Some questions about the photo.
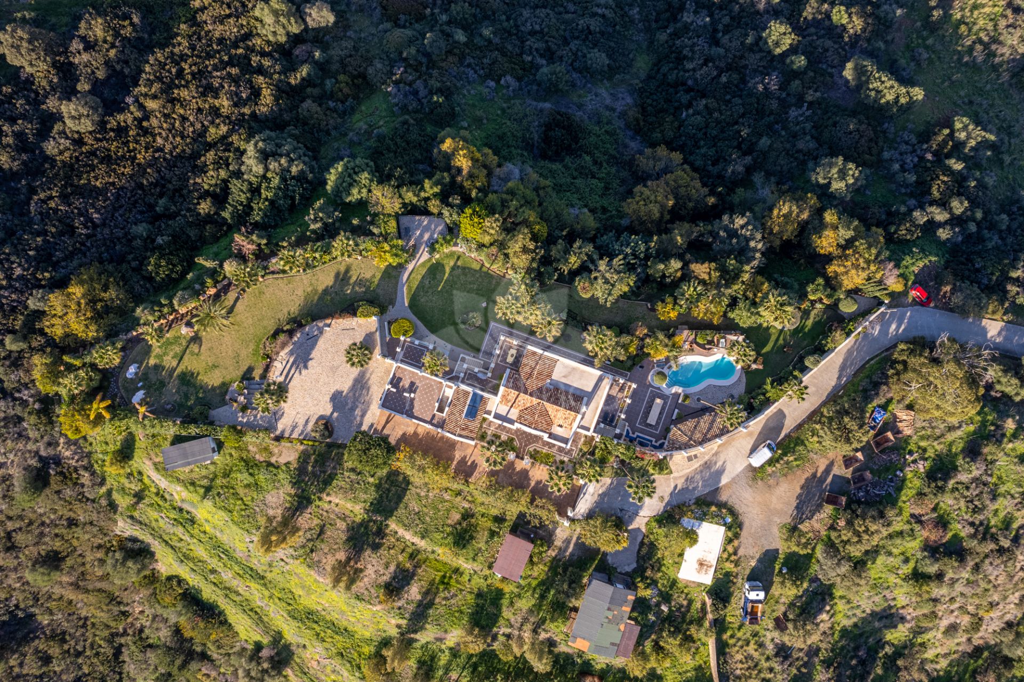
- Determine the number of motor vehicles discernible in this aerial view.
3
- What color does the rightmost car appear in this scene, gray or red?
red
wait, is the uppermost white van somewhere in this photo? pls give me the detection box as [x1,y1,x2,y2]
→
[747,439,778,468]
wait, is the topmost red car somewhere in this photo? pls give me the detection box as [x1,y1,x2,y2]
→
[906,283,932,307]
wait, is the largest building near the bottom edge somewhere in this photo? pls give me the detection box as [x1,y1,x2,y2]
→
[568,571,641,658]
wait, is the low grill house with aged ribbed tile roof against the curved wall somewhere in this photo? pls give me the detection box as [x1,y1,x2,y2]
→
[665,410,736,451]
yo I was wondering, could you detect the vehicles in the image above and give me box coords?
[747,439,778,468]
[906,283,932,307]
[744,580,765,624]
